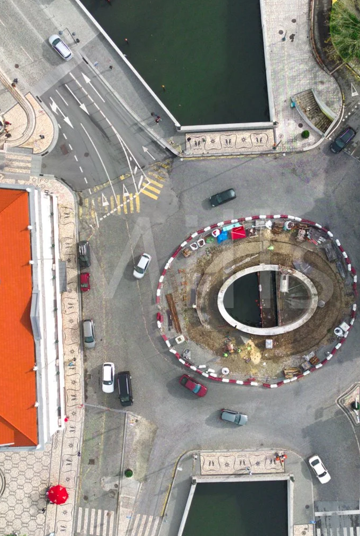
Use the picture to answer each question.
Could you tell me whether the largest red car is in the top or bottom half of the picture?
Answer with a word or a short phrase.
bottom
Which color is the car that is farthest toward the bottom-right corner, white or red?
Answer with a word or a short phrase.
white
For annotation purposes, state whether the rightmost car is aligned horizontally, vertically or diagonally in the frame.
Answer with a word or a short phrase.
diagonally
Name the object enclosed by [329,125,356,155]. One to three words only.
car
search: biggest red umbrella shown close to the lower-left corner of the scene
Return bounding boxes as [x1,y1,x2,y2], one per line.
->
[48,483,69,504]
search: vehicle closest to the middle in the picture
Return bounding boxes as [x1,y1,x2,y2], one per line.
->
[133,250,152,281]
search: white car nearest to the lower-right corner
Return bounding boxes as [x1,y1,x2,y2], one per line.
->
[309,453,329,484]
